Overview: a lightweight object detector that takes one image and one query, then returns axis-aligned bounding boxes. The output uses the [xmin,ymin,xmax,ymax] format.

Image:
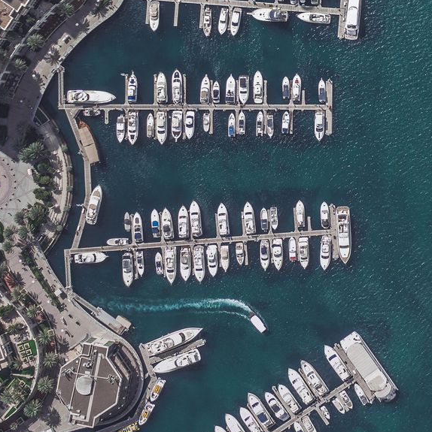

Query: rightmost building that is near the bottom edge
[55,340,138,429]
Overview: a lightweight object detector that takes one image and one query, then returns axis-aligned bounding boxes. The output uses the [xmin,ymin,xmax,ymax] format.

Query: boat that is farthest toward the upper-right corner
[345,0,361,42]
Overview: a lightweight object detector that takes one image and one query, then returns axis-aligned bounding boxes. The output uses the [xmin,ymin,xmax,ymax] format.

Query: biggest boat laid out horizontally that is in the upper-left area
[66,90,117,104]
